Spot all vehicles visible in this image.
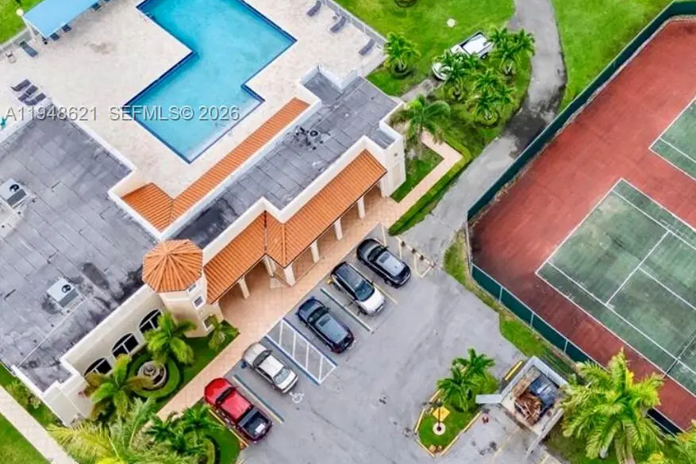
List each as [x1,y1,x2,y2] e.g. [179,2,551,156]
[201,373,279,449]
[428,28,495,78]
[353,235,419,291]
[324,261,388,318]
[293,298,360,359]
[238,339,305,401]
